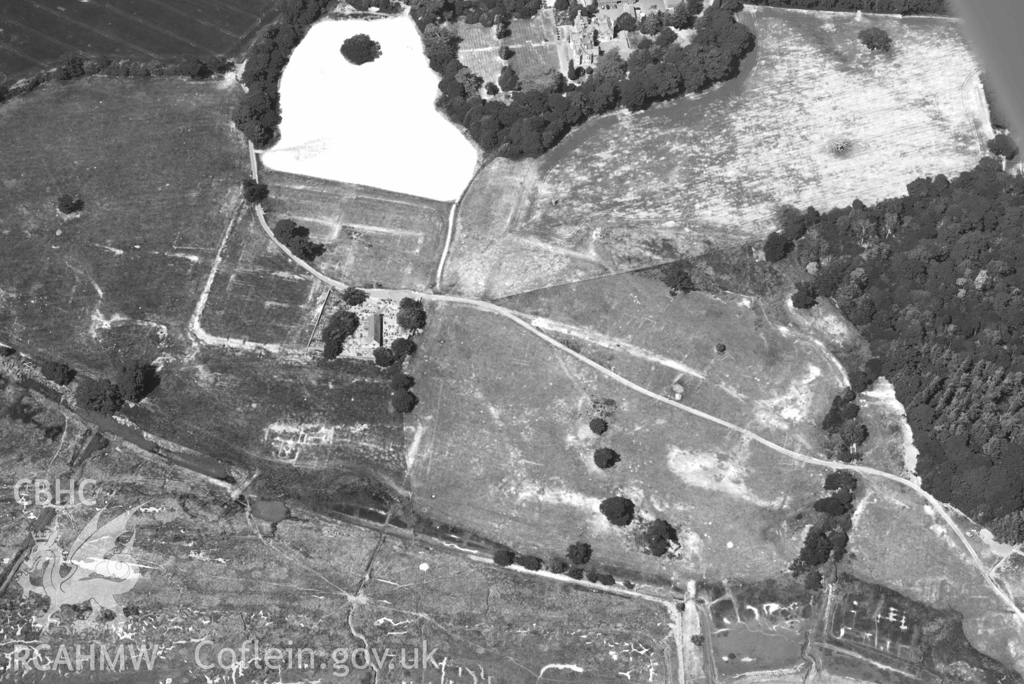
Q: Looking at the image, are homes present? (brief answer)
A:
Yes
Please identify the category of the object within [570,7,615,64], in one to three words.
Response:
house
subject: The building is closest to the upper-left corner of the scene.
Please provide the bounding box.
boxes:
[360,312,384,348]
